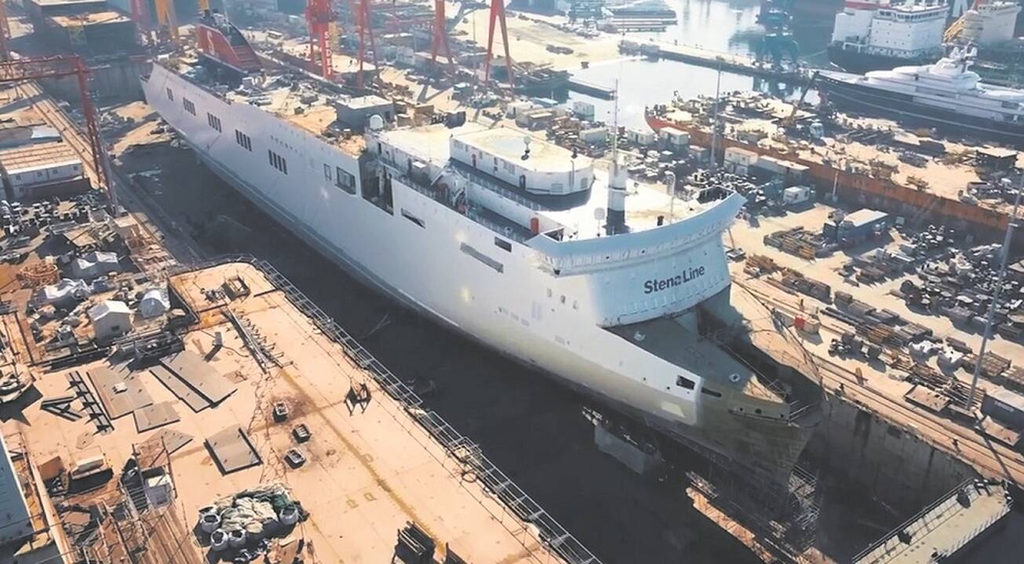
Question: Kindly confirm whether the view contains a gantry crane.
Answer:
Yes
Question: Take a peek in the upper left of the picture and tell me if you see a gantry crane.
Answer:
Yes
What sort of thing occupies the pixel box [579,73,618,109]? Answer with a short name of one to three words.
pier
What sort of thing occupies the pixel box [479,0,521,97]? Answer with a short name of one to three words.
container crane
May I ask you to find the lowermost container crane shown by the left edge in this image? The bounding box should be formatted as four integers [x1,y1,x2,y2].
[0,65,121,217]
